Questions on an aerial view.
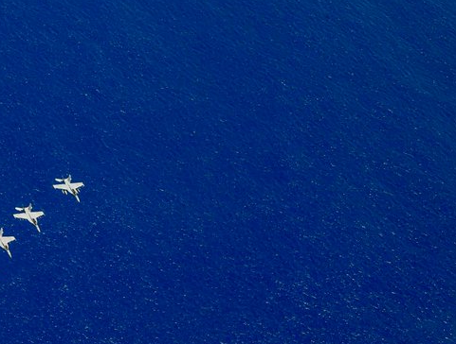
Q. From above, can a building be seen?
No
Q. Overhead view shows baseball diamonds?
No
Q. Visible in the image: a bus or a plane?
plane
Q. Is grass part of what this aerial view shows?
No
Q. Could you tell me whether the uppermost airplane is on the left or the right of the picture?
left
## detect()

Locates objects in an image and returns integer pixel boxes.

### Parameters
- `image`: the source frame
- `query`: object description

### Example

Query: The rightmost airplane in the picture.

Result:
[53,174,84,202]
